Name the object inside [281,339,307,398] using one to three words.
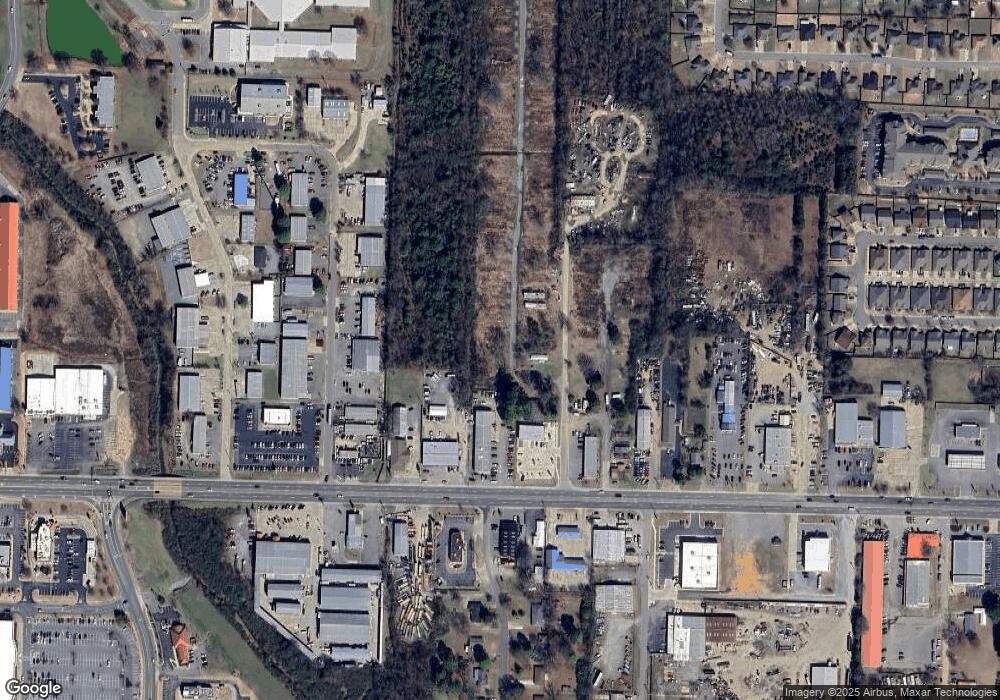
building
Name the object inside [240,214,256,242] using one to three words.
building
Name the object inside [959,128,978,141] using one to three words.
swimming pool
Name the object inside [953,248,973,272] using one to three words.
house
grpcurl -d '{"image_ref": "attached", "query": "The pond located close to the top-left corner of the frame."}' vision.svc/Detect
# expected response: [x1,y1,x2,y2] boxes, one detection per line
[47,0,121,65]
